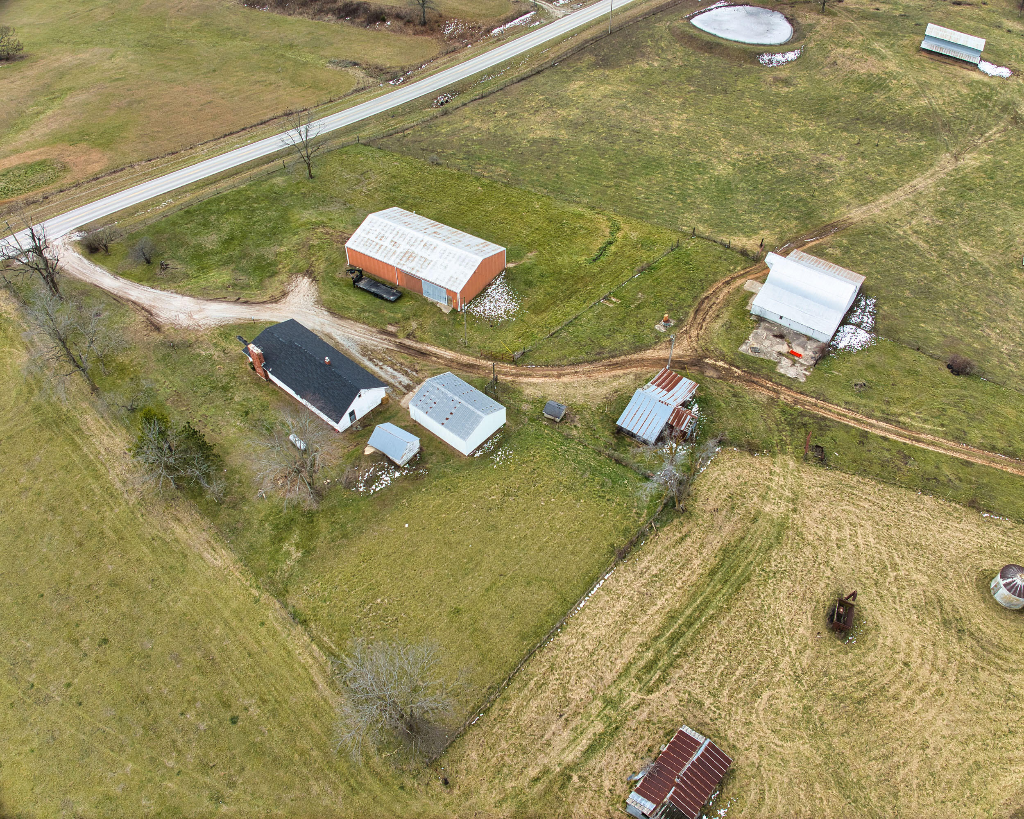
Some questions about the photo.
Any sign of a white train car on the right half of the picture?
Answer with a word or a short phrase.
No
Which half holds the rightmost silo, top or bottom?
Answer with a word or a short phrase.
bottom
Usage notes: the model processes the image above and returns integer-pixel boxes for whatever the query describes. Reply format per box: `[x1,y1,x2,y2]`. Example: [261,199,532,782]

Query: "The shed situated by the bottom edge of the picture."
[626,725,730,819]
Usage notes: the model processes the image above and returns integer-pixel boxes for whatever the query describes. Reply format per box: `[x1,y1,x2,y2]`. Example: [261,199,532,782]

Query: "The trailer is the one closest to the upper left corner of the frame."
[348,268,403,303]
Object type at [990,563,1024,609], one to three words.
silo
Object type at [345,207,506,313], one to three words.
barn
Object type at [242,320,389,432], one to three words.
house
